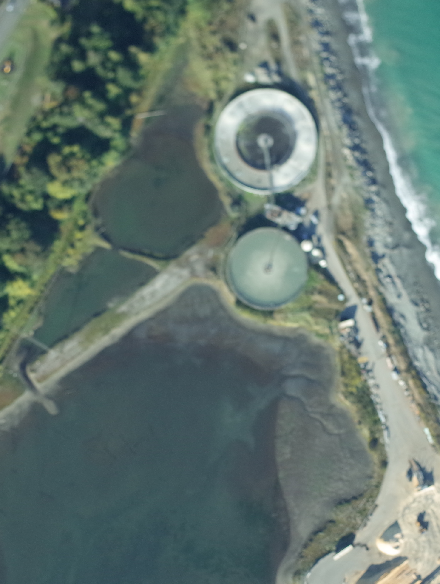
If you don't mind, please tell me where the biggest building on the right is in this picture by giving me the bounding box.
[264,206,302,229]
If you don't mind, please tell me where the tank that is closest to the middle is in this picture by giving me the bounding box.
[226,227,307,310]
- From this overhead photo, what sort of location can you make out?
industrial area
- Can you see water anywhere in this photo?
Yes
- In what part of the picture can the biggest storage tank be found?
top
